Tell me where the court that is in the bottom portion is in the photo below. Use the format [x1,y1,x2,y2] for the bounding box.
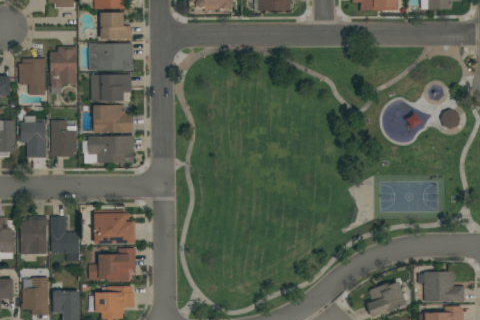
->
[374,176,445,220]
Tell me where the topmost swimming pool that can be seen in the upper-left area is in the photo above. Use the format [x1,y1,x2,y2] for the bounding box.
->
[80,14,96,37]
